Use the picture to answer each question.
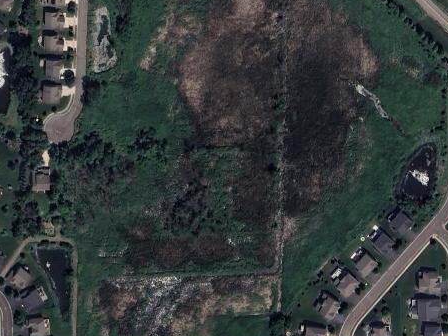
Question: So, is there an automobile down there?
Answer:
No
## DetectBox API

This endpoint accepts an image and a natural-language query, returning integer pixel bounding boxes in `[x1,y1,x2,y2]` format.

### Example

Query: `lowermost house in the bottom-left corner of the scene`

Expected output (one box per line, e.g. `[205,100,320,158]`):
[26,318,52,336]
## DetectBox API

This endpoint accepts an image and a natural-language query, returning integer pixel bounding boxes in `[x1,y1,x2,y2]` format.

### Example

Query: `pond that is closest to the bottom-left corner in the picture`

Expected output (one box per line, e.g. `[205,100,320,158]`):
[35,247,74,323]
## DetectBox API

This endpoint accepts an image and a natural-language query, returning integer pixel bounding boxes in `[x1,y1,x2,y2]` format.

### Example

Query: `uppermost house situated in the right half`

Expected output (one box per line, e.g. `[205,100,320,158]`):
[387,211,413,235]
